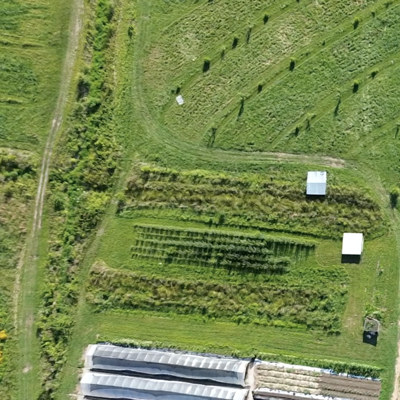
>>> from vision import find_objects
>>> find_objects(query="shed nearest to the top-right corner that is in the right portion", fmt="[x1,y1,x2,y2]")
[307,171,327,196]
